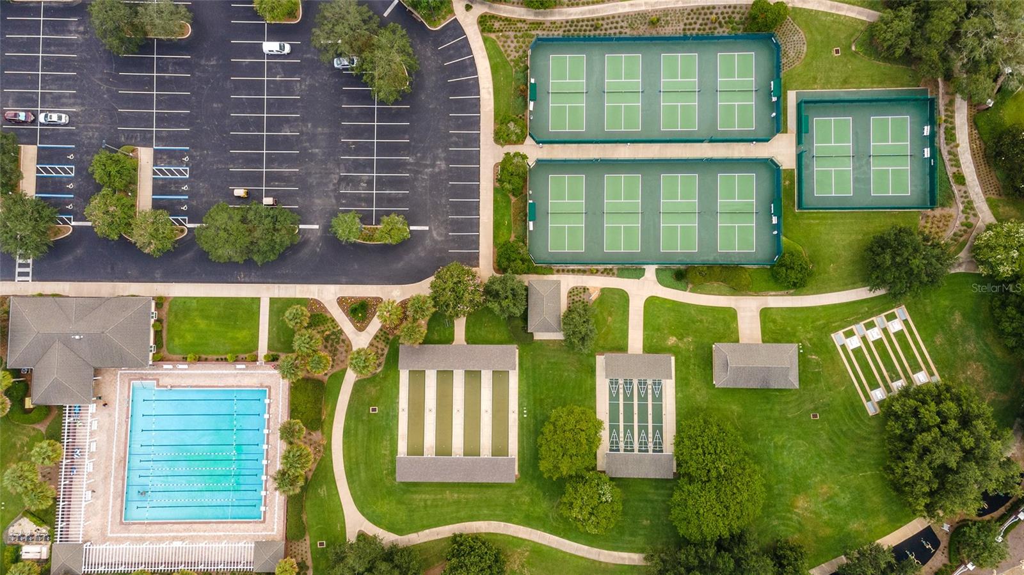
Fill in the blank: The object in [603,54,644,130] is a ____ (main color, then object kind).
green sports court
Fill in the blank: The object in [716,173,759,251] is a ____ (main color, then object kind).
green sports court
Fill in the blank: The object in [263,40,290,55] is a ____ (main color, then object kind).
white vehicle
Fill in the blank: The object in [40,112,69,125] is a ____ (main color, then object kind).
white vehicle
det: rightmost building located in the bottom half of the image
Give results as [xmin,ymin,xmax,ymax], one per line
[713,343,799,389]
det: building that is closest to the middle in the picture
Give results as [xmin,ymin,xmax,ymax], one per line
[528,280,561,332]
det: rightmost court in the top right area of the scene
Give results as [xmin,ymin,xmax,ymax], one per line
[869,115,915,195]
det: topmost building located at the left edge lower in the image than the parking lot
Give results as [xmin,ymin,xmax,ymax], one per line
[7,297,158,405]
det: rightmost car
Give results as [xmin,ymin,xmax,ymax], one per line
[333,55,355,69]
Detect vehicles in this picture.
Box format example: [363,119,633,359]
[333,55,355,69]
[40,112,69,125]
[234,188,251,198]
[5,110,35,124]
[263,197,279,206]
[263,40,290,55]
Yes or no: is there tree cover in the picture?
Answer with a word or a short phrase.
Yes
